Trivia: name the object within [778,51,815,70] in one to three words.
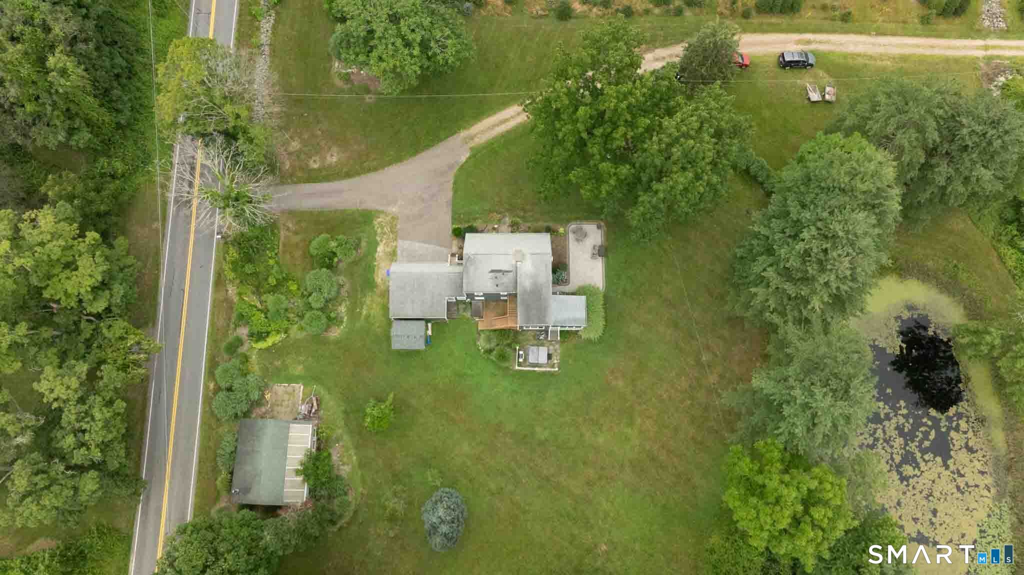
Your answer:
car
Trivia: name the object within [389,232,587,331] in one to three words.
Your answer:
house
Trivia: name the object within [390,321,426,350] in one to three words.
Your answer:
shed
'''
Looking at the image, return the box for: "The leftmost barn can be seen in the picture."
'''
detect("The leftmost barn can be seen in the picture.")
[230,419,319,506]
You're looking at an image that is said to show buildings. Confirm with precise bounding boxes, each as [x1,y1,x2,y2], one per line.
[390,321,426,350]
[230,419,319,506]
[389,232,587,331]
